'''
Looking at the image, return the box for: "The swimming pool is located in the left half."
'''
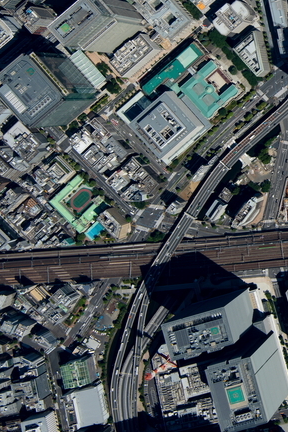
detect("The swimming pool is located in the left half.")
[84,222,104,240]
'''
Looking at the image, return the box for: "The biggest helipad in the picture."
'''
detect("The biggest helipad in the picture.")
[227,389,243,405]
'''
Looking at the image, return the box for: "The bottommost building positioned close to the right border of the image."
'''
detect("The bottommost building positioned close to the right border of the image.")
[206,332,288,432]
